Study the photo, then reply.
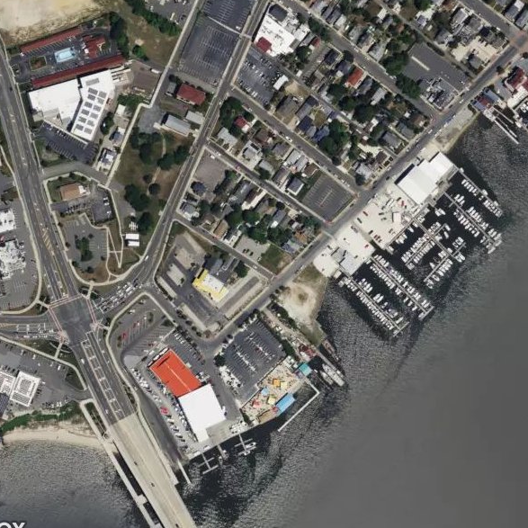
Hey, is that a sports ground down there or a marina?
marina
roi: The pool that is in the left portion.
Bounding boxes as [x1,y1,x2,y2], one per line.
[54,46,76,64]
